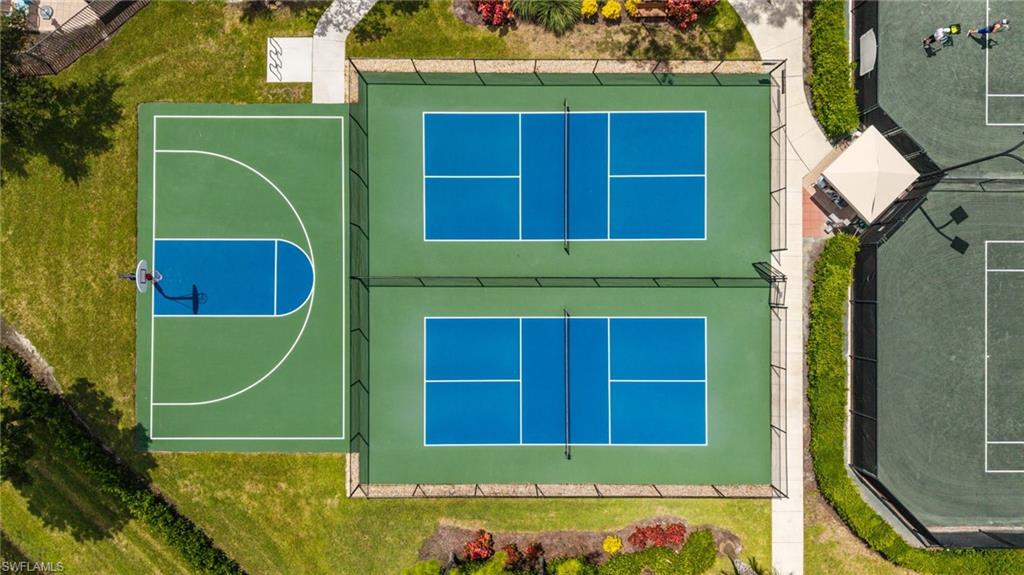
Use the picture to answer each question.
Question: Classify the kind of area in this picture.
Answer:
sports ground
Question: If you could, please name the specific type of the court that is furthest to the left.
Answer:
basketball court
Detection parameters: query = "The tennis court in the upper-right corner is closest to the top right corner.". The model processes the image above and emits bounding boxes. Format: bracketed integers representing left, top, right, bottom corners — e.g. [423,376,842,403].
[878,0,1024,176]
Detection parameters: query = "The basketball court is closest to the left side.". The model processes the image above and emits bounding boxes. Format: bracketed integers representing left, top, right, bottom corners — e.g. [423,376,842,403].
[136,104,359,453]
